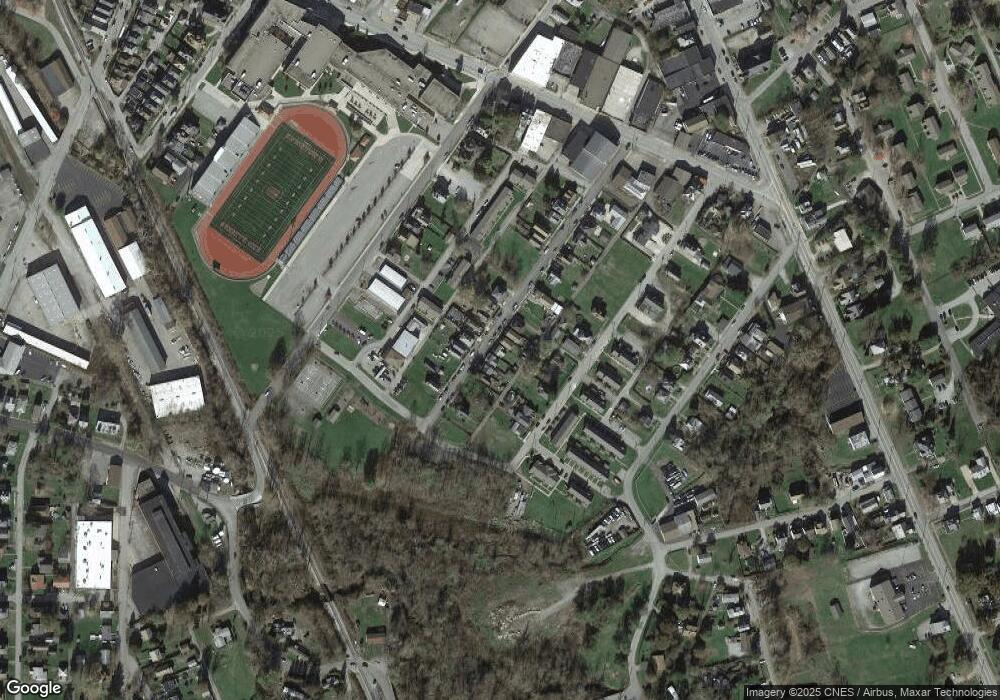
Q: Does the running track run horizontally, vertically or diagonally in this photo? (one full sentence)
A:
The running track is laid out diagonally.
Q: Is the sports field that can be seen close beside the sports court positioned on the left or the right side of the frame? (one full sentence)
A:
You can find the sports field that can be seen close beside the sports court on the left side of the picture.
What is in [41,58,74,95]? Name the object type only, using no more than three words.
barn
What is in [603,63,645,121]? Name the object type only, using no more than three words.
building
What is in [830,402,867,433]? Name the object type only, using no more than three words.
building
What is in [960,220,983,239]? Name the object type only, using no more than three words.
house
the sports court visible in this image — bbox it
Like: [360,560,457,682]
[292,360,344,409]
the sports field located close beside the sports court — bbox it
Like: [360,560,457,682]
[189,263,300,394]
